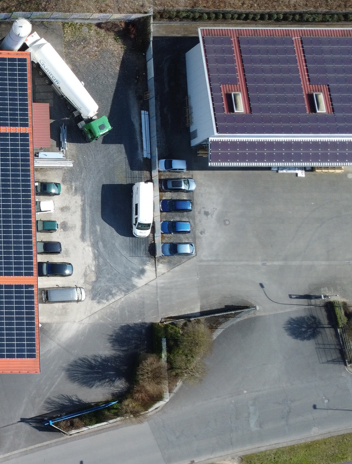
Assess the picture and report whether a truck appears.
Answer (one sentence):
Yes, I can see a truck in this picture.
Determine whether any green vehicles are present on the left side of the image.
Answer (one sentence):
Yes, a green vehicle shows up on the left side of the image.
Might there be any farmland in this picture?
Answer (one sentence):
No, the scene doesn't show any farmland.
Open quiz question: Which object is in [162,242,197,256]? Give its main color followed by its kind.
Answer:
blue car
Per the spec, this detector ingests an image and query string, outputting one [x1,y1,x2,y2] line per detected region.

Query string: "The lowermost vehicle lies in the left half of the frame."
[41,286,85,303]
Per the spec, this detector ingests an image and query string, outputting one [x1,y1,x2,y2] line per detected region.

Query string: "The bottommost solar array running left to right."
[212,142,352,161]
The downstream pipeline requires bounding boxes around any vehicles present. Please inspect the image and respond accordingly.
[34,181,61,196]
[161,219,191,235]
[34,199,54,213]
[162,242,197,256]
[35,219,61,234]
[131,183,154,237]
[36,239,63,255]
[36,261,75,277]
[157,158,188,173]
[41,286,85,303]
[160,198,192,213]
[70,111,111,142]
[158,176,196,193]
